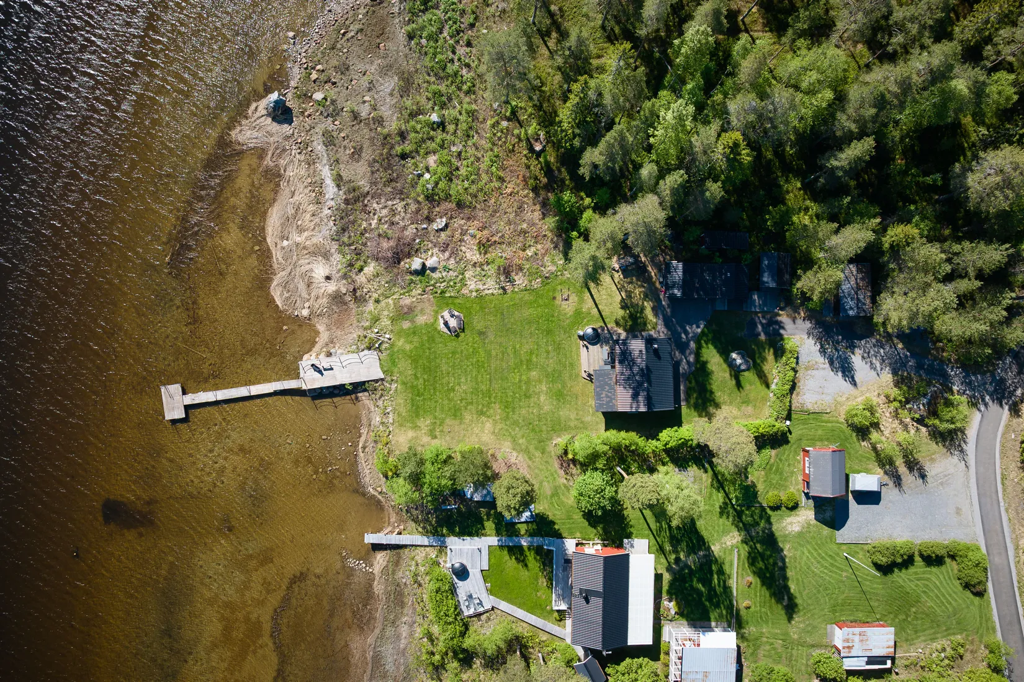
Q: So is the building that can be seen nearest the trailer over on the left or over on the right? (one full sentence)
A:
The building that can be seen nearest the trailer appears in the right half of the scene.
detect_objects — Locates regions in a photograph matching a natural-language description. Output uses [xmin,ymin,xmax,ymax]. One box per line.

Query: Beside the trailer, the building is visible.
[803,450,846,498]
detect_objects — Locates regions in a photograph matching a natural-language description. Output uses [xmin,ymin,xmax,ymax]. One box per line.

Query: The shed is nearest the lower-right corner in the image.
[837,622,895,669]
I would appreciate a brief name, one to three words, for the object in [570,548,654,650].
house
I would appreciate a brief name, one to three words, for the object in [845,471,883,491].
trailer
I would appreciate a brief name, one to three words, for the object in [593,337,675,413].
house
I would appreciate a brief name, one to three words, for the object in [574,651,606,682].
shed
